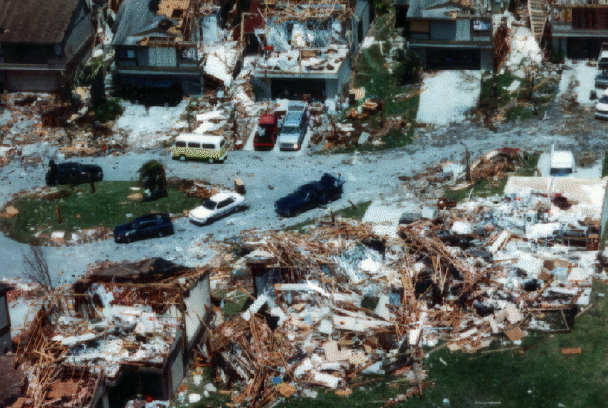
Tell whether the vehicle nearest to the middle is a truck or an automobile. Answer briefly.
truck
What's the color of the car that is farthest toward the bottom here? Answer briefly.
black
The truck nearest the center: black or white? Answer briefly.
black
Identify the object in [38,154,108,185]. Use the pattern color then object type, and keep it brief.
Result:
black truck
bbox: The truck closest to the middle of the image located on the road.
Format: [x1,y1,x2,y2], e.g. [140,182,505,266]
[269,161,353,215]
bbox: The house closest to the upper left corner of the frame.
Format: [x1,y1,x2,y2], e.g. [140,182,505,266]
[0,0,98,93]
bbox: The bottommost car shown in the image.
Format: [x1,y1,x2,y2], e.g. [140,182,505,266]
[113,212,174,244]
